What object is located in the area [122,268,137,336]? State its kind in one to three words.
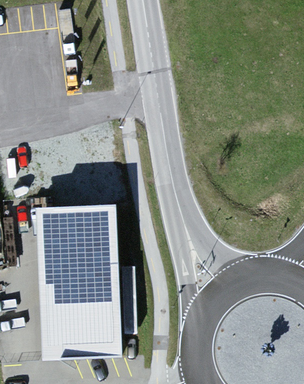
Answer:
trailer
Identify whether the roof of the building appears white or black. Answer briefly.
white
